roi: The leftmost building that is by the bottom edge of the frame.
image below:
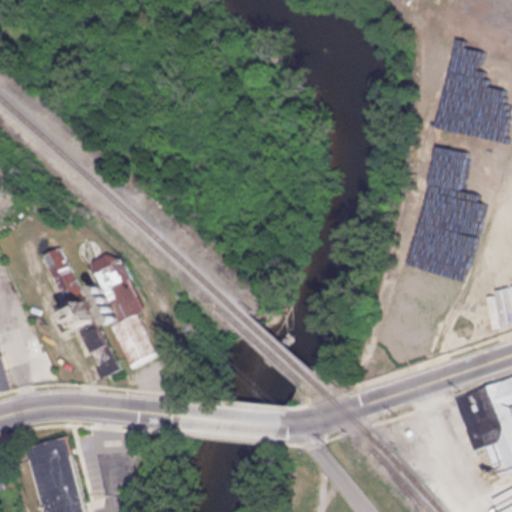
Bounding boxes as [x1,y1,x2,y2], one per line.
[28,436,83,512]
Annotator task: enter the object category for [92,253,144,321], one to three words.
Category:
building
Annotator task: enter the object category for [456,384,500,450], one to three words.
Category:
building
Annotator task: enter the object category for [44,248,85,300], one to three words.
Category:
house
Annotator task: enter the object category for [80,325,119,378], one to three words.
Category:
house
